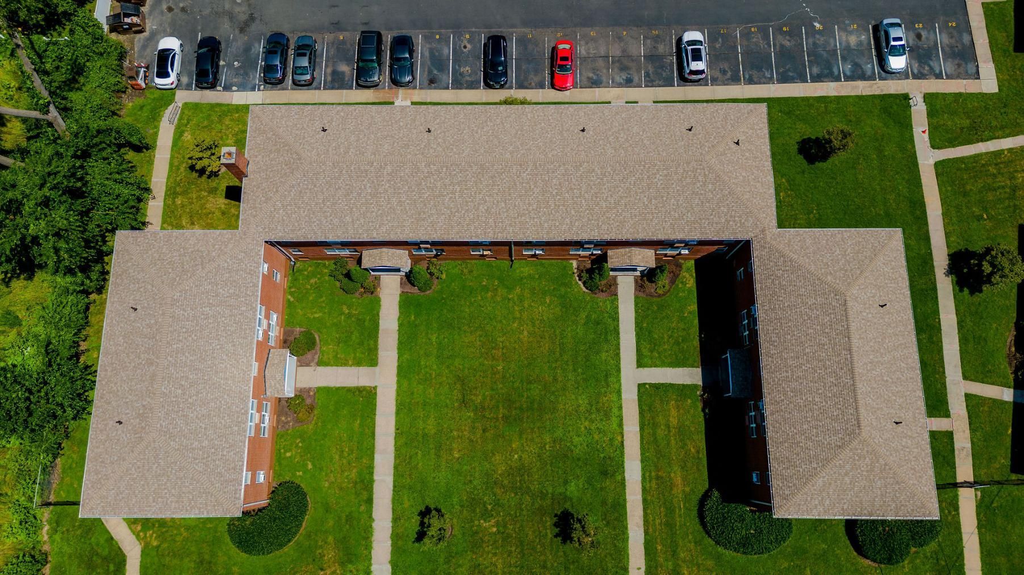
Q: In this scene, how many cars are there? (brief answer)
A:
10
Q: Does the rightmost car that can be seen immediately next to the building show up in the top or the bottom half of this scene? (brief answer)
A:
top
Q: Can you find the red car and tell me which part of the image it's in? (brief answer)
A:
top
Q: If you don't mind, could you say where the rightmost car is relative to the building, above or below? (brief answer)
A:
above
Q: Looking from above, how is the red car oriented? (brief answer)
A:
up and down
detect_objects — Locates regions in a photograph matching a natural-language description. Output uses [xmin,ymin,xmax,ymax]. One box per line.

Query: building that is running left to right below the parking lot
[78,103,941,520]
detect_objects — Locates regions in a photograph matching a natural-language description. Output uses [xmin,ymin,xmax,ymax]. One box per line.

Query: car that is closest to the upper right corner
[877,20,910,73]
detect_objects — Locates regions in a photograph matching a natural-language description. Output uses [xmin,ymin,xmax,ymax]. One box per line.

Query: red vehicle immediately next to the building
[552,40,576,91]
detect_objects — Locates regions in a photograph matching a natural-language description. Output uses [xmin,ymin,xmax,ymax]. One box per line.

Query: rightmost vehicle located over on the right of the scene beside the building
[680,32,707,83]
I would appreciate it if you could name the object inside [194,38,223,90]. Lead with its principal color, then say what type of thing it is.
black car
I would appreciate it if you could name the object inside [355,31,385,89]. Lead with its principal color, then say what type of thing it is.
black car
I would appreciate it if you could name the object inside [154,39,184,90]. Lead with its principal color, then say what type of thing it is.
white car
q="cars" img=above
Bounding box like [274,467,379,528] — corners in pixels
[291,37,318,87]
[388,35,414,88]
[355,31,385,89]
[877,20,910,73]
[483,35,509,89]
[263,34,290,85]
[154,39,184,90]
[680,32,707,83]
[194,38,223,90]
[552,40,576,91]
